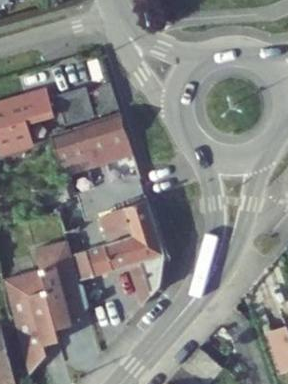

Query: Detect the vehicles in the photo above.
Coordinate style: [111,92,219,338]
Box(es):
[87,58,103,83]
[64,64,78,85]
[174,342,196,363]
[104,301,120,325]
[147,168,171,180]
[22,72,46,86]
[196,146,210,168]
[151,180,173,192]
[212,51,236,63]
[94,305,108,326]
[121,270,134,294]
[180,83,196,106]
[257,48,278,59]
[190,232,218,298]
[74,62,87,84]
[52,66,66,90]
[149,376,164,384]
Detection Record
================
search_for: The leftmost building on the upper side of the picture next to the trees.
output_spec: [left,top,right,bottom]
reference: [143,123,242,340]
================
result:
[0,87,53,157]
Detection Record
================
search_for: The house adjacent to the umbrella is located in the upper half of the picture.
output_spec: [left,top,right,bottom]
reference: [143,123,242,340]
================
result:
[54,112,133,176]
